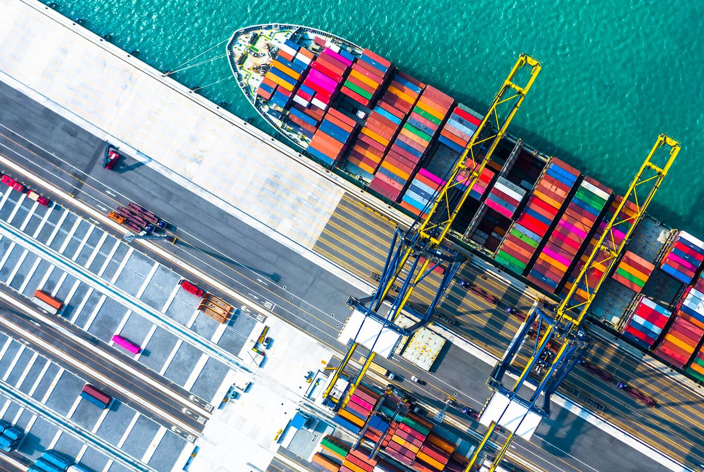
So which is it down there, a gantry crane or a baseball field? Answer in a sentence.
This aerial view contains a gantry crane.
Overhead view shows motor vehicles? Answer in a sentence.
Yes, you can see a motor vehicle in this photo.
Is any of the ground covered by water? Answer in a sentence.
Yes, the picture does contain water.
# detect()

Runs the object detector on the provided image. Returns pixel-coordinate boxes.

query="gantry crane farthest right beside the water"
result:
[463,133,682,472]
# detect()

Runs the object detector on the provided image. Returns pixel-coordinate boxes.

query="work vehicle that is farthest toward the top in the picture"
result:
[96,136,121,171]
